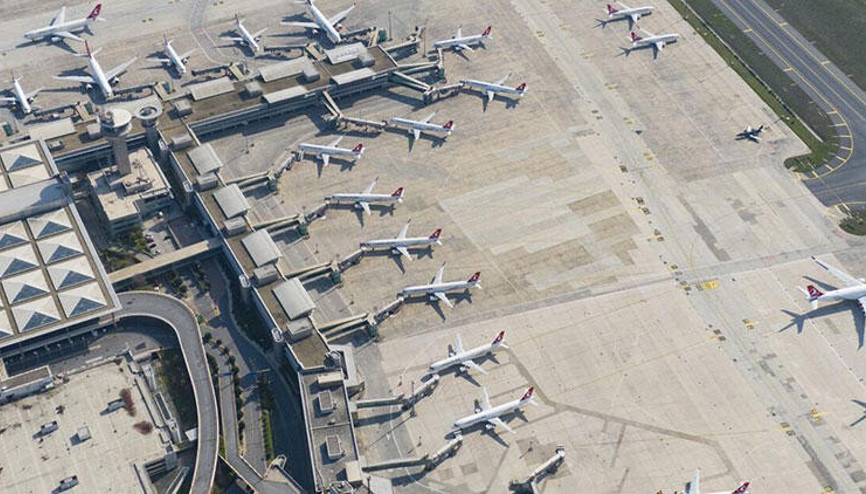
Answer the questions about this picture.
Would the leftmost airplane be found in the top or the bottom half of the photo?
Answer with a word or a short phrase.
top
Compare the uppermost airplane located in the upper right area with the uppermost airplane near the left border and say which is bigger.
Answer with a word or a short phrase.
the uppermost airplane near the left border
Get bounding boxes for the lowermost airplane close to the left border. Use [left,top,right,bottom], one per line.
[0,73,48,113]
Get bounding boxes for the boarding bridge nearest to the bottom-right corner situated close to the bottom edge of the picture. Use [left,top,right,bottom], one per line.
[521,449,567,494]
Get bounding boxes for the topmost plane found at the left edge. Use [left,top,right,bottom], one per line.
[25,6,104,43]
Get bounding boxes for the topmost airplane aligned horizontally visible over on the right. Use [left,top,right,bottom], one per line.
[606,1,654,25]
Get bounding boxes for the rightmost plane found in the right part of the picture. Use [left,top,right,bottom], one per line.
[796,255,866,319]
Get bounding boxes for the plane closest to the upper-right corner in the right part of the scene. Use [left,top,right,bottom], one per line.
[735,123,764,140]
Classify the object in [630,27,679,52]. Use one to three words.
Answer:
airplane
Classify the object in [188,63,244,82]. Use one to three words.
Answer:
jet bridge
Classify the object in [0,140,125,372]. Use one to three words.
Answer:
building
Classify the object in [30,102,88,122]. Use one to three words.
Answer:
jet bridge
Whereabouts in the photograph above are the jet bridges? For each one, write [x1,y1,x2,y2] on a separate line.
[355,372,445,414]
[188,63,244,82]
[316,294,408,348]
[387,72,468,108]
[397,46,448,80]
[285,246,368,289]
[224,151,301,198]
[251,200,334,241]
[336,27,380,47]
[360,432,467,476]
[260,44,321,61]
[109,82,167,102]
[521,449,567,494]
[322,92,391,134]
[382,25,427,58]
[30,102,88,122]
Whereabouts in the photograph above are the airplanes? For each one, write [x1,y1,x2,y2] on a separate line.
[390,109,456,141]
[0,73,48,113]
[433,25,493,53]
[25,6,104,43]
[735,123,764,140]
[630,27,679,52]
[452,388,538,435]
[332,176,404,216]
[147,35,199,74]
[796,255,866,319]
[465,72,528,102]
[362,217,441,263]
[402,262,481,309]
[606,1,654,25]
[279,0,358,44]
[430,332,509,376]
[299,133,364,167]
[220,14,270,52]
[52,42,139,99]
